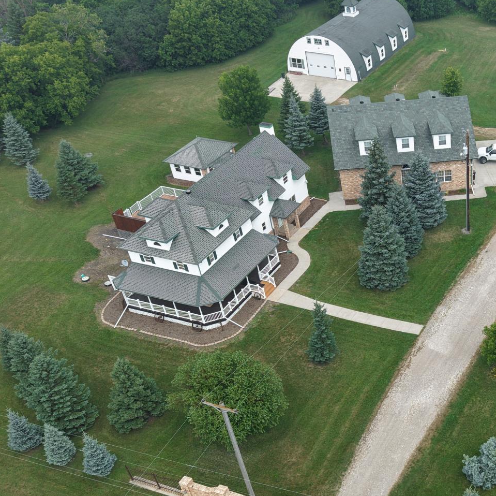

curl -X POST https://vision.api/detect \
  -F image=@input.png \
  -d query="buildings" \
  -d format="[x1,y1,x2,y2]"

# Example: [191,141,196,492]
[328,90,479,200]
[286,0,413,83]
[113,119,324,330]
